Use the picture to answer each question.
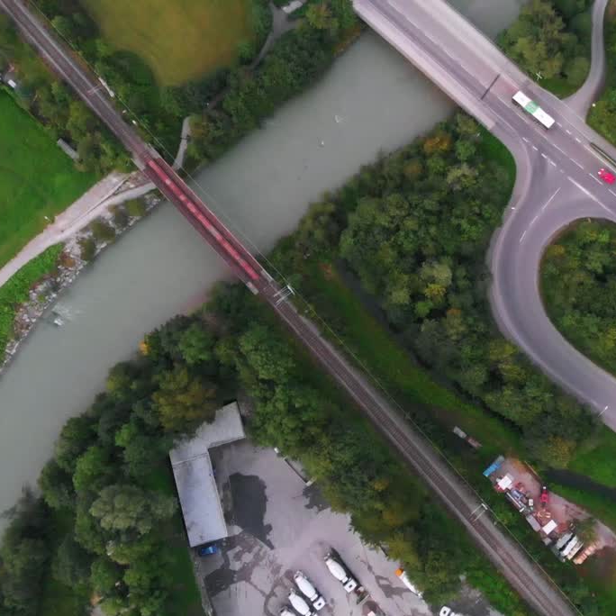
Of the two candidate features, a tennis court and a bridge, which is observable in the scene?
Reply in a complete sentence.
It is a bridge that can be seen here.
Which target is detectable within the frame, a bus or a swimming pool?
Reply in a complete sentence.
This aerial view contains a bus.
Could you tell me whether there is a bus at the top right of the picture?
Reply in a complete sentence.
Yes, a bus appears at the top right of the picture.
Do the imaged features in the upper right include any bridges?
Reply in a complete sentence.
Yes, you'll find a bridge in the upper right.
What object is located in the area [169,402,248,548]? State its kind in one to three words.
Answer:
shed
